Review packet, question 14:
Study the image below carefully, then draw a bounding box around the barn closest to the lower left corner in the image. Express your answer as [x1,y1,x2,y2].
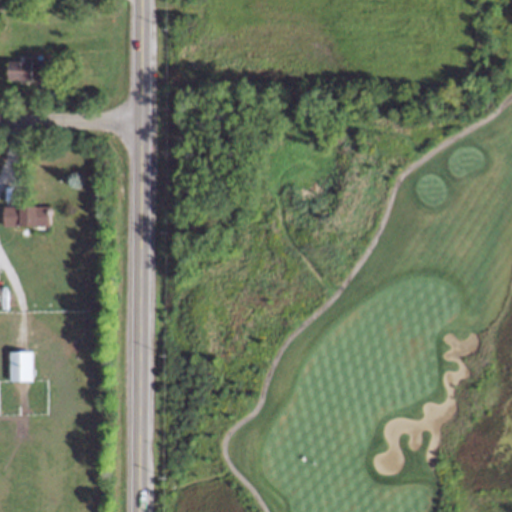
[10,351,34,382]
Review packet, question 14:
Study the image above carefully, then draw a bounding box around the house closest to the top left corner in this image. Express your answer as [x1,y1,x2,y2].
[6,62,32,85]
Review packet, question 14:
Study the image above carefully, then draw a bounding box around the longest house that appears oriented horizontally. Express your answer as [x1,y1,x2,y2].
[2,206,52,230]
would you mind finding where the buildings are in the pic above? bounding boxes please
[10,351,34,382]
[2,206,52,230]
[6,62,32,85]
